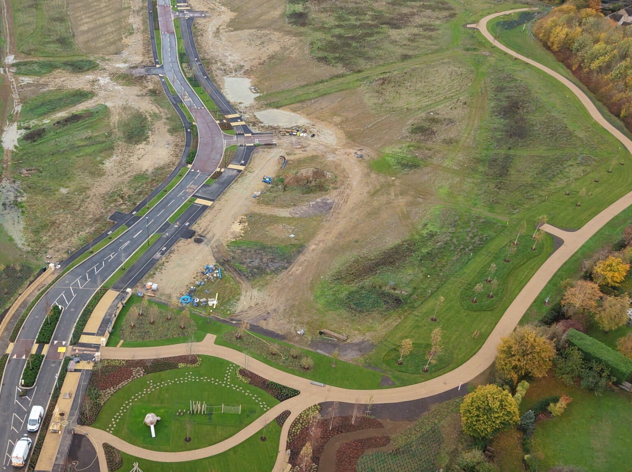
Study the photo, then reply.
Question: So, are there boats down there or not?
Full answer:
No, I can see no boat in this picture.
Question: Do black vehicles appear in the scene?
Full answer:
No, the picture doesn't show any black vehicle.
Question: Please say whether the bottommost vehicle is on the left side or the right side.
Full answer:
The bottommost vehicle is on the left side of the image.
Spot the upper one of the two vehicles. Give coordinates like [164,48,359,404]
[28,404,45,430]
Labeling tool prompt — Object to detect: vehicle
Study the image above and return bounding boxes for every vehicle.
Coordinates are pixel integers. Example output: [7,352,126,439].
[15,435,38,465]
[28,404,45,430]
